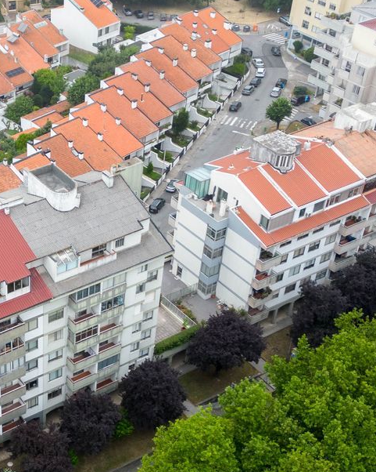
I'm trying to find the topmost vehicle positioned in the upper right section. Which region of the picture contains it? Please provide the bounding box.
[275,15,295,29]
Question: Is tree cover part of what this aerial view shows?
Yes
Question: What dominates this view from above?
buildings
